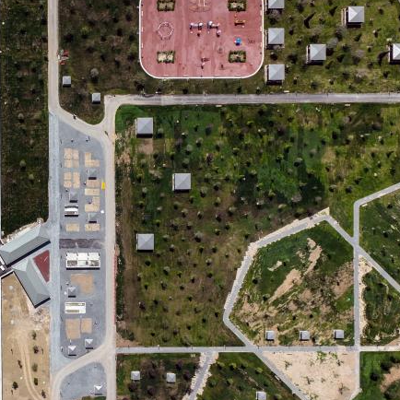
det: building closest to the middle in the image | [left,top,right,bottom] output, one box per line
[172,173,190,191]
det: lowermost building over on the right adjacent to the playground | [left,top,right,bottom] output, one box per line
[265,65,285,84]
